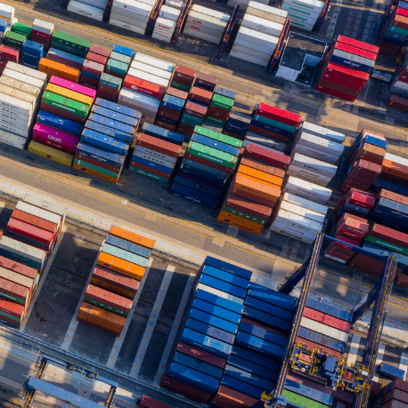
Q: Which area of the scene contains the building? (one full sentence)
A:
The building appears toward the top right of the photo.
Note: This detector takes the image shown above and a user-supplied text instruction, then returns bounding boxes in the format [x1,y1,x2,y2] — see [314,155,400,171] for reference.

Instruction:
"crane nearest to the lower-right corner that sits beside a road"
[246,221,405,408]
